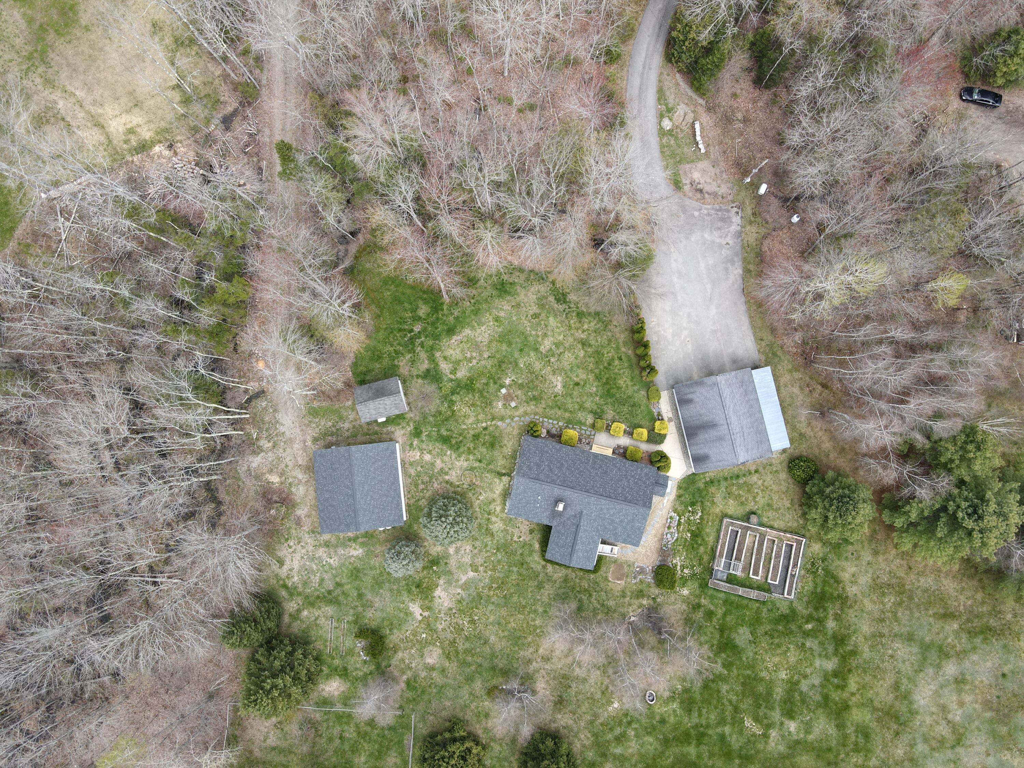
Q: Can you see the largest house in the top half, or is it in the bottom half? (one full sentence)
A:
The largest house sits in the bottom half of the picture.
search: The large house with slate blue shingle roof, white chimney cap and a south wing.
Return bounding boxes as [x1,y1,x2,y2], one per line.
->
[507,435,669,570]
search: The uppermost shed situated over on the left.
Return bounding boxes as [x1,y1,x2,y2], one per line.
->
[353,377,408,422]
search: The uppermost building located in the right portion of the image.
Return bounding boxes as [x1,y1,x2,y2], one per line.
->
[673,365,789,474]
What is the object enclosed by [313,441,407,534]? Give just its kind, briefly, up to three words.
shed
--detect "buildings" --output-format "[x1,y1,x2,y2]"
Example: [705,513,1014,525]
[507,435,669,570]
[313,441,407,534]
[673,365,789,474]
[353,377,408,422]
